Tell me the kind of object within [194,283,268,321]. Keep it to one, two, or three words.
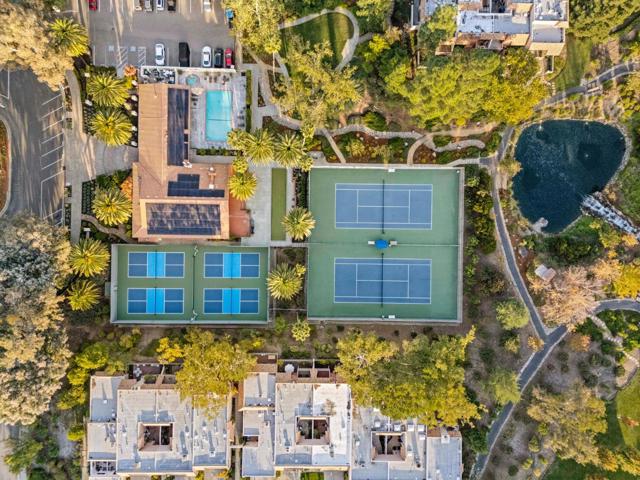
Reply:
sports court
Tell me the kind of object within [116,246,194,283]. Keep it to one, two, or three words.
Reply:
sports court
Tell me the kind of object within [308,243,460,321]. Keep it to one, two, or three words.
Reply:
tennis court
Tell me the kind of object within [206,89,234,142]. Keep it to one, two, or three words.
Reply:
swimming pool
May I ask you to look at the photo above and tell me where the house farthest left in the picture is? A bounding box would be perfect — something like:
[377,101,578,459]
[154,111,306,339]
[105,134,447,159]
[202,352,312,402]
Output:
[87,369,129,480]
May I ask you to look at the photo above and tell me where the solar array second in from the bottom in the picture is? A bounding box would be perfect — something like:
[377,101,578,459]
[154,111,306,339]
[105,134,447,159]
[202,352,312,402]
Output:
[167,174,224,196]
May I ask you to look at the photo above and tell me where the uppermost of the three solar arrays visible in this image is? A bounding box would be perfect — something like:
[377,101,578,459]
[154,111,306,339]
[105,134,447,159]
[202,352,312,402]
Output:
[167,88,189,166]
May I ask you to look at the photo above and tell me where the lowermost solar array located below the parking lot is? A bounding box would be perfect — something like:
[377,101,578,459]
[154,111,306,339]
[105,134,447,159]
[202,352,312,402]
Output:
[145,204,221,234]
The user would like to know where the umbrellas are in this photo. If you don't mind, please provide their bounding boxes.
[191,85,204,98]
[284,362,295,372]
